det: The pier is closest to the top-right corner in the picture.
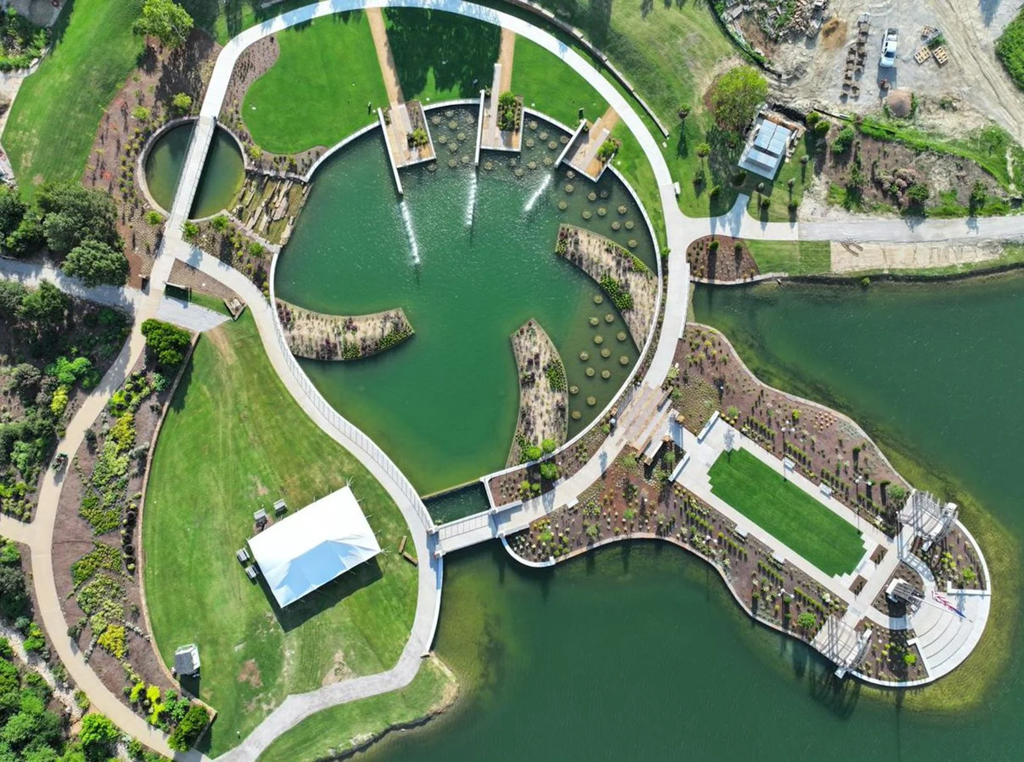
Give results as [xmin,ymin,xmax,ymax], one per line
[554,119,619,184]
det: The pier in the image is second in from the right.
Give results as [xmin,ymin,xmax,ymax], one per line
[476,63,525,169]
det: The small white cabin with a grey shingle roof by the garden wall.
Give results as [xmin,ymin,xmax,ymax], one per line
[175,641,207,676]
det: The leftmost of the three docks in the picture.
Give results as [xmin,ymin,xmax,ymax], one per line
[379,101,437,198]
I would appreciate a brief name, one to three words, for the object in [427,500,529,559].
bridge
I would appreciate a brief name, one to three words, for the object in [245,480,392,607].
tent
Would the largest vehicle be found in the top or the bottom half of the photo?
top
